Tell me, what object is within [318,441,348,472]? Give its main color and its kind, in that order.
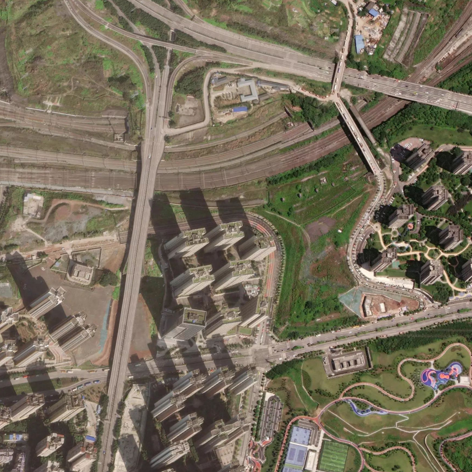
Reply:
green soccer field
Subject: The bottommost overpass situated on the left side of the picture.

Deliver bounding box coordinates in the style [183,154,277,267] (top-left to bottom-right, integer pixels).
[99,111,163,472]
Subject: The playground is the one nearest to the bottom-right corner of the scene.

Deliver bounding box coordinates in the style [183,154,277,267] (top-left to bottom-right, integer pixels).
[422,362,463,390]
